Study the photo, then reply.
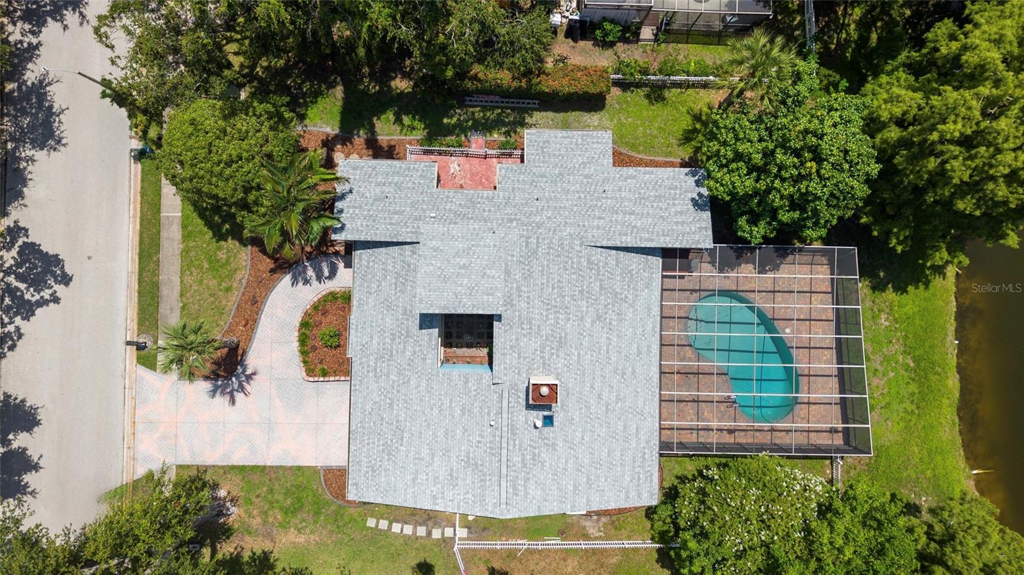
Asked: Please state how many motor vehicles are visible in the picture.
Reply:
0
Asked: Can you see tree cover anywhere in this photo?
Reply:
Yes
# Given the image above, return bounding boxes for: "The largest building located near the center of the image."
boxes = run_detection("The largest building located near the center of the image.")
[332,130,713,517]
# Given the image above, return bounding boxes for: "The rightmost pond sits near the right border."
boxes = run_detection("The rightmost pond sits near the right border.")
[954,157,1024,533]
